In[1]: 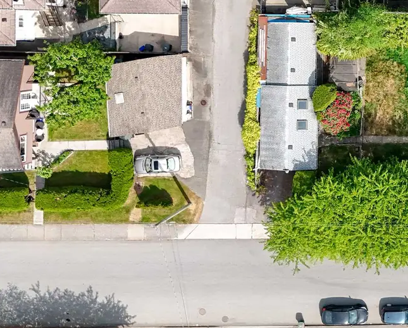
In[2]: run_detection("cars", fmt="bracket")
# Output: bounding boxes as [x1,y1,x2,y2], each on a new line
[321,302,369,327]
[135,153,183,177]
[380,302,408,323]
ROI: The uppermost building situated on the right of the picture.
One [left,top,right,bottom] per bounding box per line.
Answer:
[260,15,318,86]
